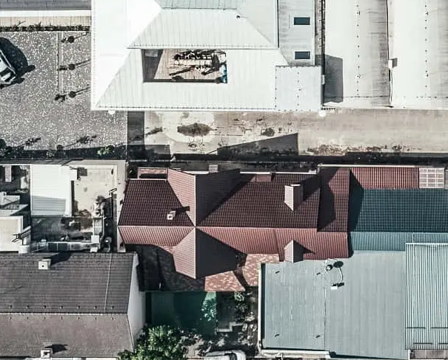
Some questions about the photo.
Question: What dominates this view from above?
buildings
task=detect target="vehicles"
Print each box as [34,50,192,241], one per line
[0,43,17,86]
[202,351,246,360]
